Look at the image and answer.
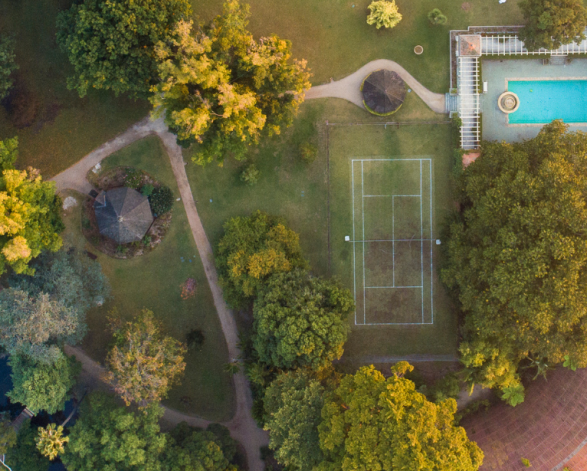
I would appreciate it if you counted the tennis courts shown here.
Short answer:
1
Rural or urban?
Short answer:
rural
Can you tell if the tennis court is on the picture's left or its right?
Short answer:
right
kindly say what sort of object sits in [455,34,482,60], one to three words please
building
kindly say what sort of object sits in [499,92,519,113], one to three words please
fountain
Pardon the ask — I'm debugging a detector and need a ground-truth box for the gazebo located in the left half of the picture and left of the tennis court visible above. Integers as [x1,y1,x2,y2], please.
[92,186,153,243]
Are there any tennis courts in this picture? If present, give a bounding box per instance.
[333,138,451,345]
